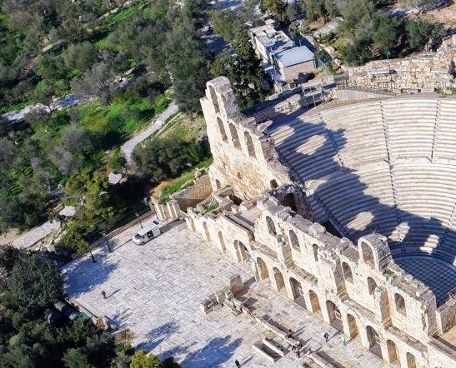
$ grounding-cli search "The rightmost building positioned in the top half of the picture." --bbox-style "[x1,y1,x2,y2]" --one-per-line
[274,43,317,76]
